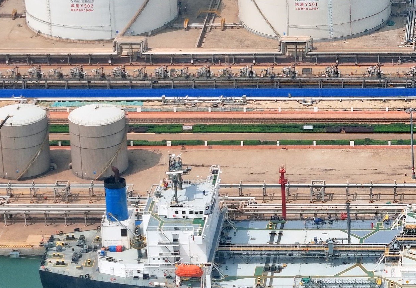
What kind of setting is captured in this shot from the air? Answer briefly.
industrial area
